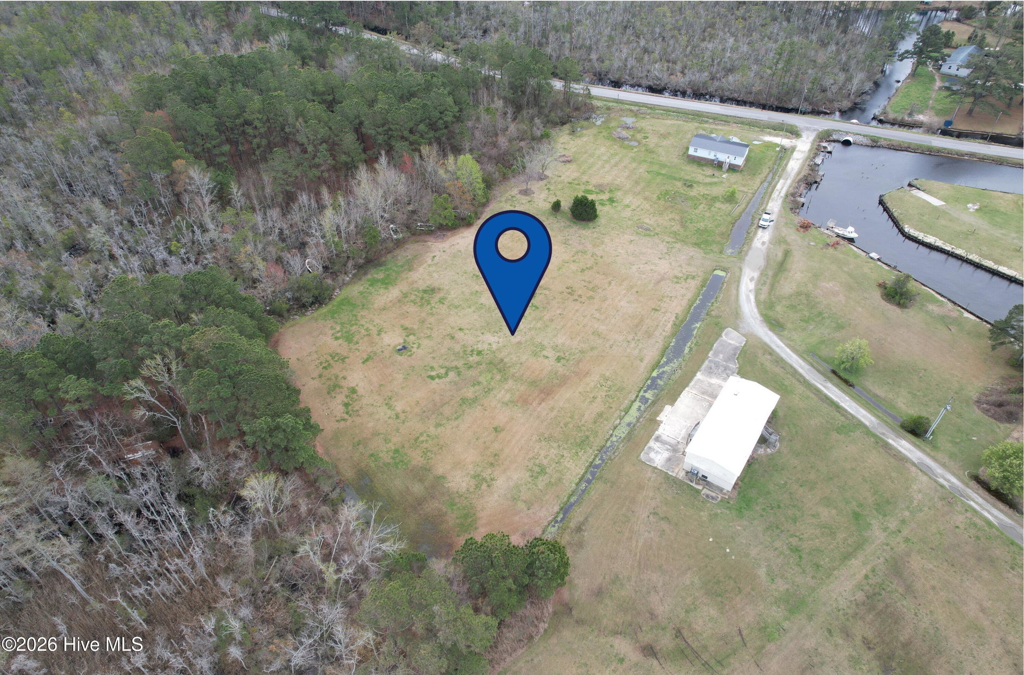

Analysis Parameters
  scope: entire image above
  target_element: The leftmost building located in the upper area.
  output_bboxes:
[688,133,751,169]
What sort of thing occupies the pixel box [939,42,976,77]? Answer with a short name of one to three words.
house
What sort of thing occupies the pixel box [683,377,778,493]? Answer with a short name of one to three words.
building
